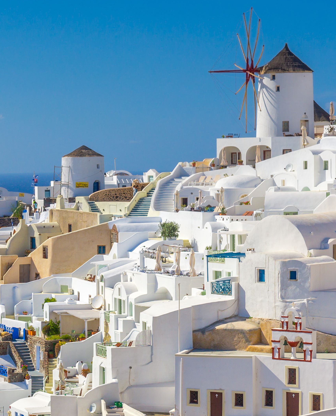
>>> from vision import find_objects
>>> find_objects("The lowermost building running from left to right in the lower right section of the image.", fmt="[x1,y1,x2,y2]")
[169,349,336,416]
